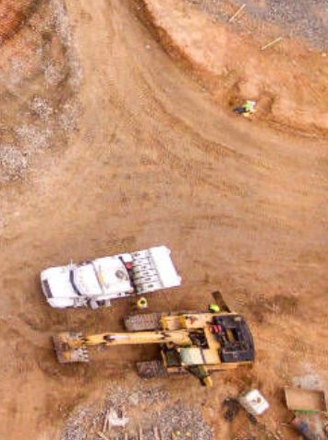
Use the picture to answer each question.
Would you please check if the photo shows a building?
No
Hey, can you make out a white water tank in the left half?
No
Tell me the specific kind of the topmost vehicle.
truck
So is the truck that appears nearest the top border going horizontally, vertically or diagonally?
horizontally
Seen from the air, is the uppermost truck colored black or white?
white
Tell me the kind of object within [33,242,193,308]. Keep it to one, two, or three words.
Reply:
truck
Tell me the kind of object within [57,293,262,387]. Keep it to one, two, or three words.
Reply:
work vehicle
